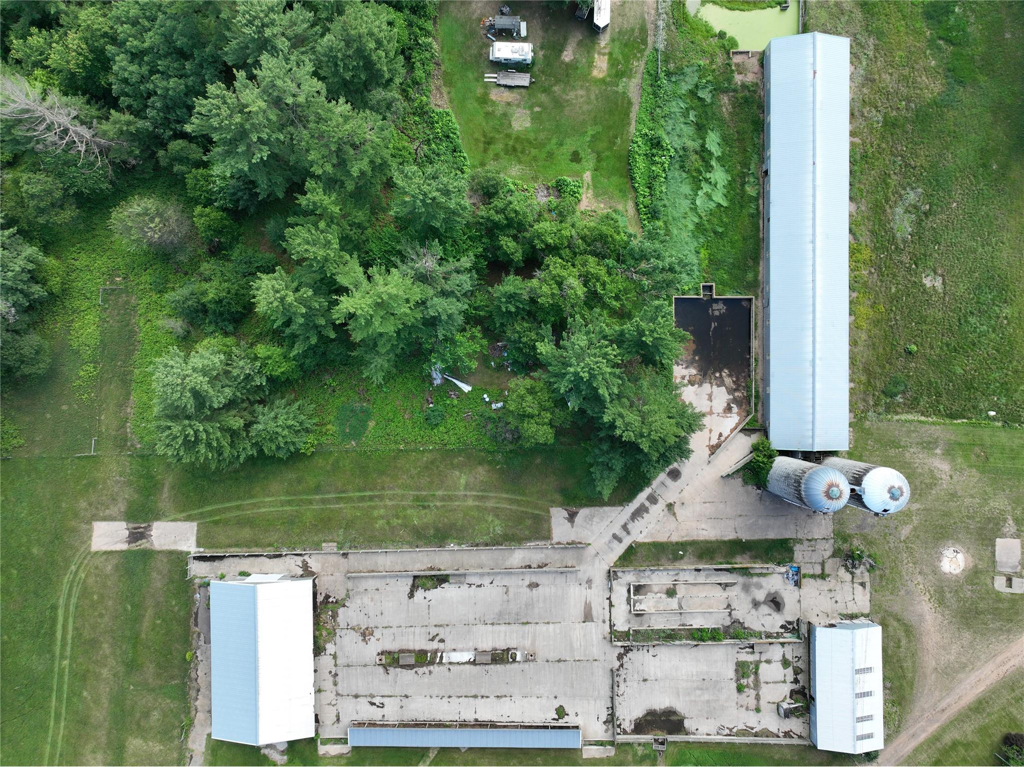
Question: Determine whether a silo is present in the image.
Yes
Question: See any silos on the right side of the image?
Yes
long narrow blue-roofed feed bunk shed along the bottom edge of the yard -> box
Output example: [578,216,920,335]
[347,721,583,749]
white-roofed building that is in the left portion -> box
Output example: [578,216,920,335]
[210,571,320,747]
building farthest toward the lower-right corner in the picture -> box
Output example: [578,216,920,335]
[809,620,883,755]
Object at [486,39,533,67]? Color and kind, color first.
white trailer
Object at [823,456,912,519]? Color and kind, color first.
white silo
